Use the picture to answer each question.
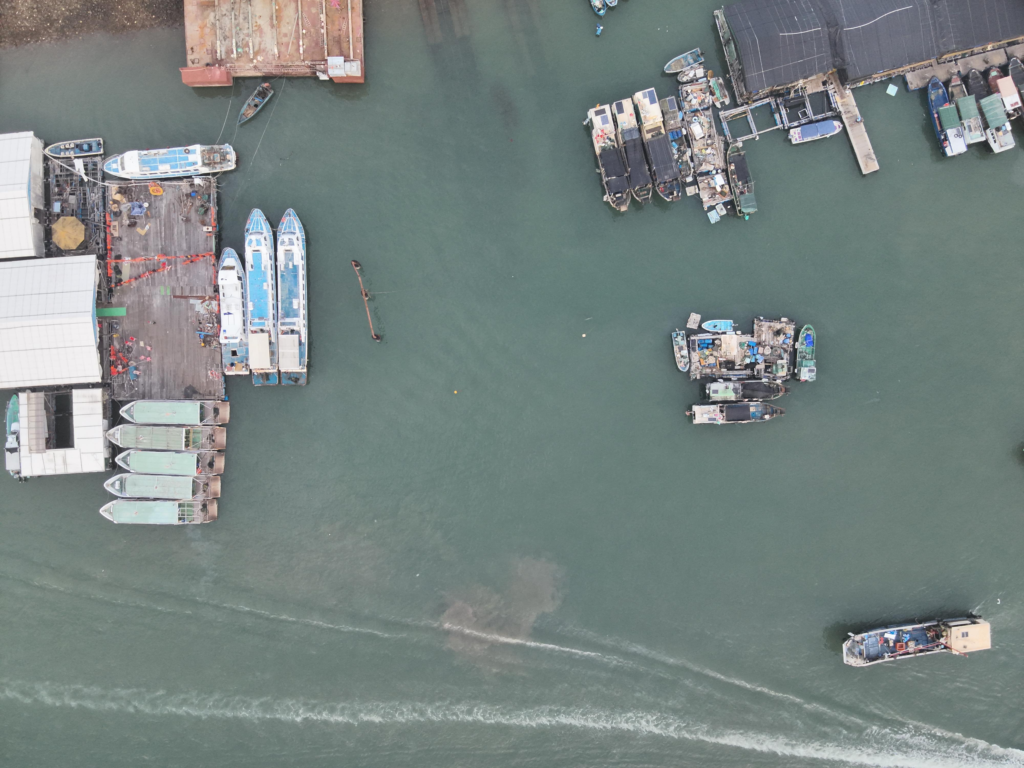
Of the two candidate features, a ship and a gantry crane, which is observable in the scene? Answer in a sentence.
There is a ship in the scene.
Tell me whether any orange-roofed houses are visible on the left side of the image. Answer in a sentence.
No, on the left side of the image there is no orange-roofed house.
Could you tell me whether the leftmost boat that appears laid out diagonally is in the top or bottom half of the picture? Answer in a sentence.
Seen from above, the leftmost boat that appears laid out diagonally lies in the top half of the view.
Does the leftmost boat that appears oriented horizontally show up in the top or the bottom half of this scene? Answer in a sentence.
Seen from above, the leftmost boat that appears oriented horizontally lies in the top half of the view.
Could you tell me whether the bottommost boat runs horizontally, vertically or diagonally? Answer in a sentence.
In this picture, the bottommost boat lies horizontally.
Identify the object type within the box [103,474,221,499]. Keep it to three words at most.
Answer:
ship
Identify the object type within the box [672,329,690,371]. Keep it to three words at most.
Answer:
boat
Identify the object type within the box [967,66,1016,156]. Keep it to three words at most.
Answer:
boat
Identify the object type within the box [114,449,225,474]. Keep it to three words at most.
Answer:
ship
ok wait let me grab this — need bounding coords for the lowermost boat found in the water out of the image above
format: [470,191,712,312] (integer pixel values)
[840,612,991,667]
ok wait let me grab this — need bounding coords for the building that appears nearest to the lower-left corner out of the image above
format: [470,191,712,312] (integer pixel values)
[18,388,117,476]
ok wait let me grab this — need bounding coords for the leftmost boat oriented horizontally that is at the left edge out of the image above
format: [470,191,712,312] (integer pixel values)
[46,137,104,157]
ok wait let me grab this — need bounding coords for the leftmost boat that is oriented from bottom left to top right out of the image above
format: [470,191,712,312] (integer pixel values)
[237,82,274,124]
